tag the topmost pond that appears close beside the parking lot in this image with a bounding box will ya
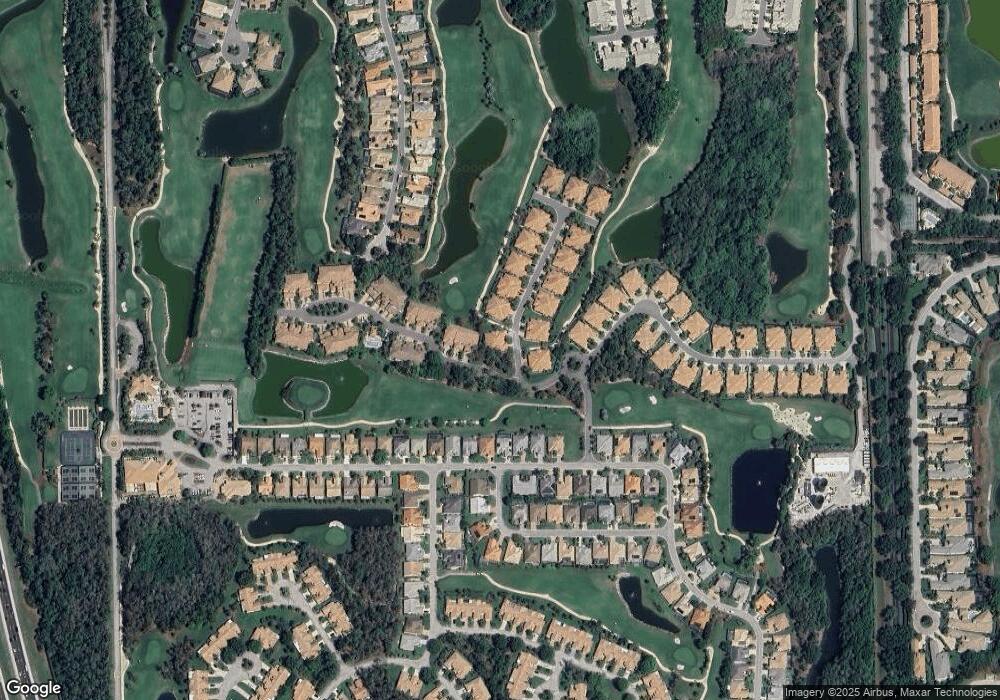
[139,217,195,362]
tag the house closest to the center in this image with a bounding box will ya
[483,330,508,350]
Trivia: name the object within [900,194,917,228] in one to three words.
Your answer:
tennis court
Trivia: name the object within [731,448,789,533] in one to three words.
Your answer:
pond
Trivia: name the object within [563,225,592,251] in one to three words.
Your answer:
house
